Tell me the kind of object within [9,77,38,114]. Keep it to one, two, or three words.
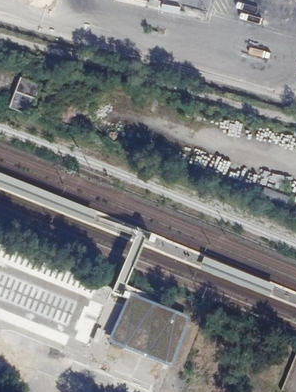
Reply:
shed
